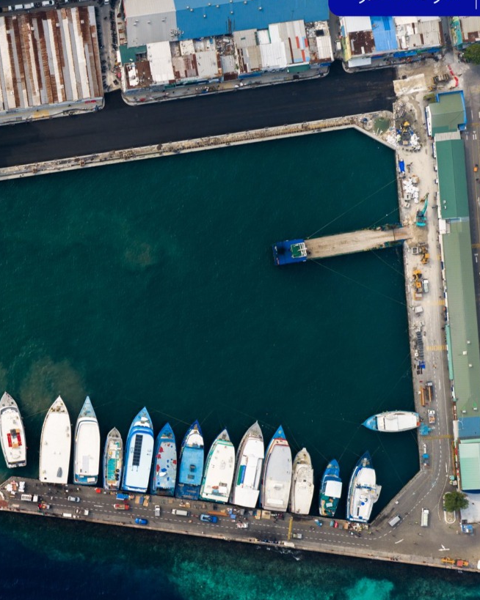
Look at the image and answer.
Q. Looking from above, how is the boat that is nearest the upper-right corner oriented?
from side to side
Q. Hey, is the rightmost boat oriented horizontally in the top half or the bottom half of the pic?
bottom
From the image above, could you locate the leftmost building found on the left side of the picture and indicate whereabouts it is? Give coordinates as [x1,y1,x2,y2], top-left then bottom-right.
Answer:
[0,5,103,119]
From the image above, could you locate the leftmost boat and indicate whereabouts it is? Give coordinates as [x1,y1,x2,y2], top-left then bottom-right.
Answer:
[0,392,29,466]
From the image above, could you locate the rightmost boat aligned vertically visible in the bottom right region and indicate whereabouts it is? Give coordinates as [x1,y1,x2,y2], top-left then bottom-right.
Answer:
[343,451,378,523]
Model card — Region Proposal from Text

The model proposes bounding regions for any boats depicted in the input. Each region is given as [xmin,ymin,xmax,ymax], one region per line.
[40,395,73,485]
[150,422,177,493]
[358,410,417,433]
[231,421,263,510]
[120,407,155,493]
[258,424,294,512]
[315,458,340,515]
[102,426,122,488]
[175,420,204,498]
[72,396,100,483]
[268,231,402,265]
[198,428,234,502]
[290,448,311,513]
[0,392,29,466]
[343,451,378,523]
